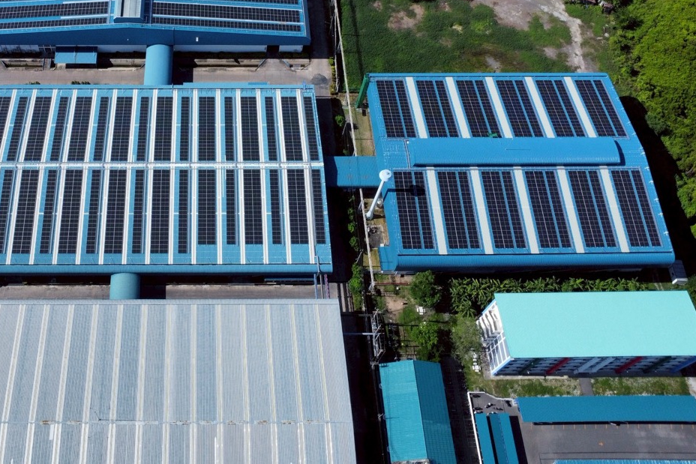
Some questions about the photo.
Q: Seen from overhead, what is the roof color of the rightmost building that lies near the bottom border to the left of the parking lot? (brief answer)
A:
blue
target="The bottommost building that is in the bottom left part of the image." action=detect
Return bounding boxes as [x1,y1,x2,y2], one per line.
[0,301,356,464]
